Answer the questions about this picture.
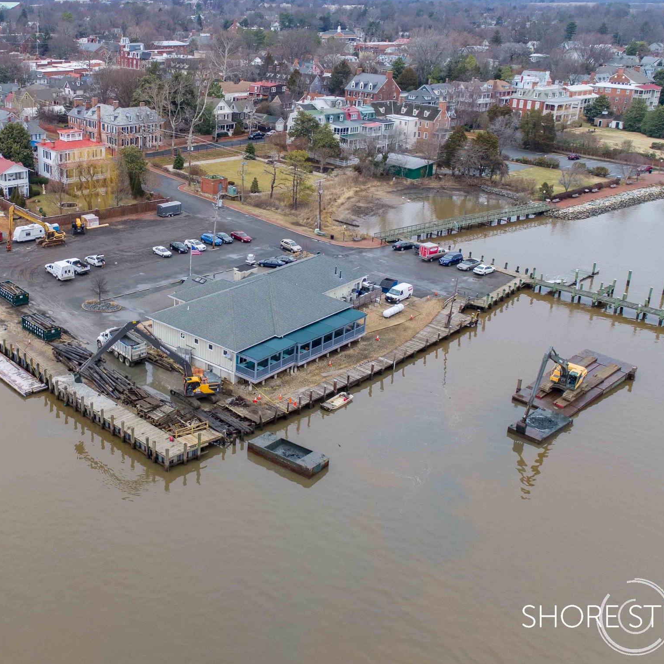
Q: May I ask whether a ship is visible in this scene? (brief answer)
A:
Yes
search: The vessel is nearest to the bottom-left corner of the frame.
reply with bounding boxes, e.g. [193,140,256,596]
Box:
[248,433,329,478]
